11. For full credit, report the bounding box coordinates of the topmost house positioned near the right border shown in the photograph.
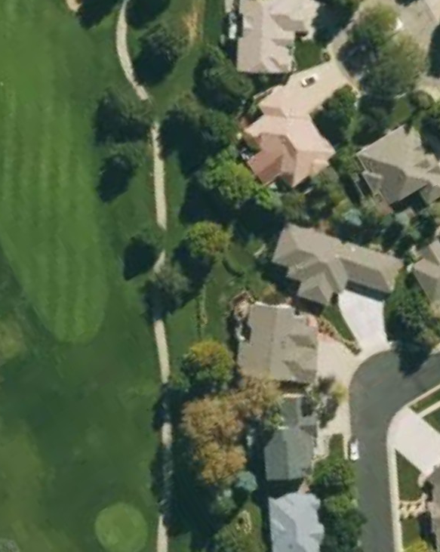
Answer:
[360,123,440,206]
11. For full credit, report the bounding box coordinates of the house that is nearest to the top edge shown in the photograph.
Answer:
[236,0,322,75]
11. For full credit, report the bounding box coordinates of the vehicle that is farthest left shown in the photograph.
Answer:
[300,73,321,87]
